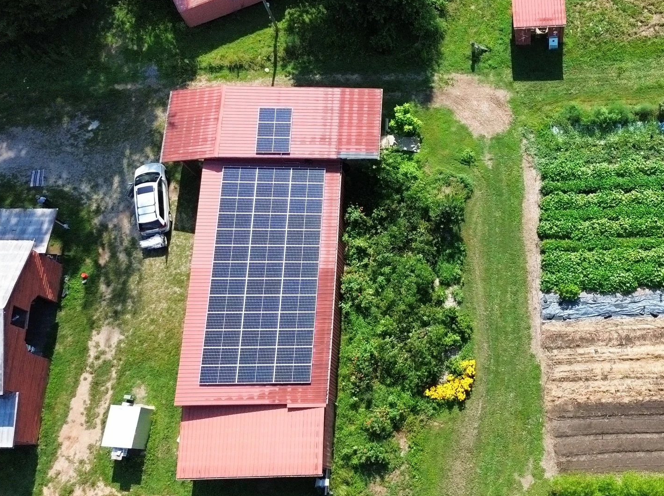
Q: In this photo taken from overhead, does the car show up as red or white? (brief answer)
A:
white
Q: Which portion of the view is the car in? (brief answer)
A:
left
